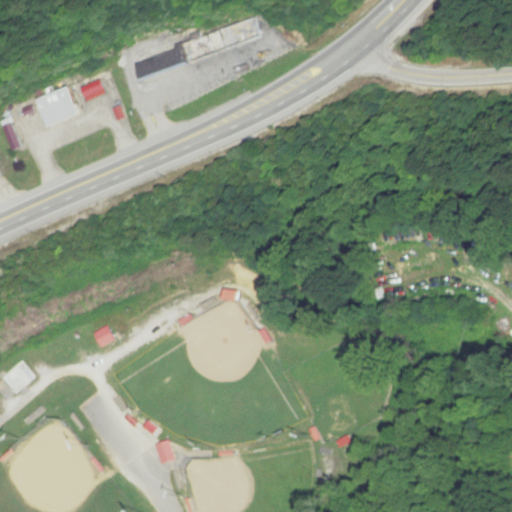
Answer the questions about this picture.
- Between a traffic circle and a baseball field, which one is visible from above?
baseball field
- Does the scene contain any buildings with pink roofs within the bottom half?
Yes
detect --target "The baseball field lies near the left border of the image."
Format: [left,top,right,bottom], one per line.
[0,418,150,512]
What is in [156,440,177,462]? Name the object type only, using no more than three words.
building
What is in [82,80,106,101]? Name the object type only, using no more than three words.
barn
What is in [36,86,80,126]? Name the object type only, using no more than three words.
building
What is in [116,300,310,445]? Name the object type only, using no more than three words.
baseball field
